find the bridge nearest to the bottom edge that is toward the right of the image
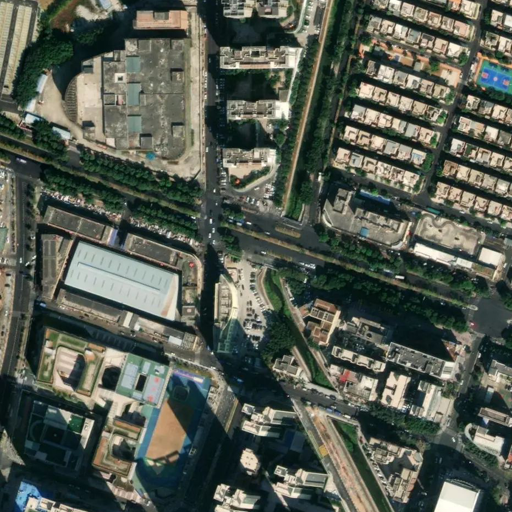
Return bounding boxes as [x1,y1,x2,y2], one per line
[304,375,352,417]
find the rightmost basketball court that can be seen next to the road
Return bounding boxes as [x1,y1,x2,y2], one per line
[473,61,512,97]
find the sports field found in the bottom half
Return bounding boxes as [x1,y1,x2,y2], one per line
[134,368,210,504]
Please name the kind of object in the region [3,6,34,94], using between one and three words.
shed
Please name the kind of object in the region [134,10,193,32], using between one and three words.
building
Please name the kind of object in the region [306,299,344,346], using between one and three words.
building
